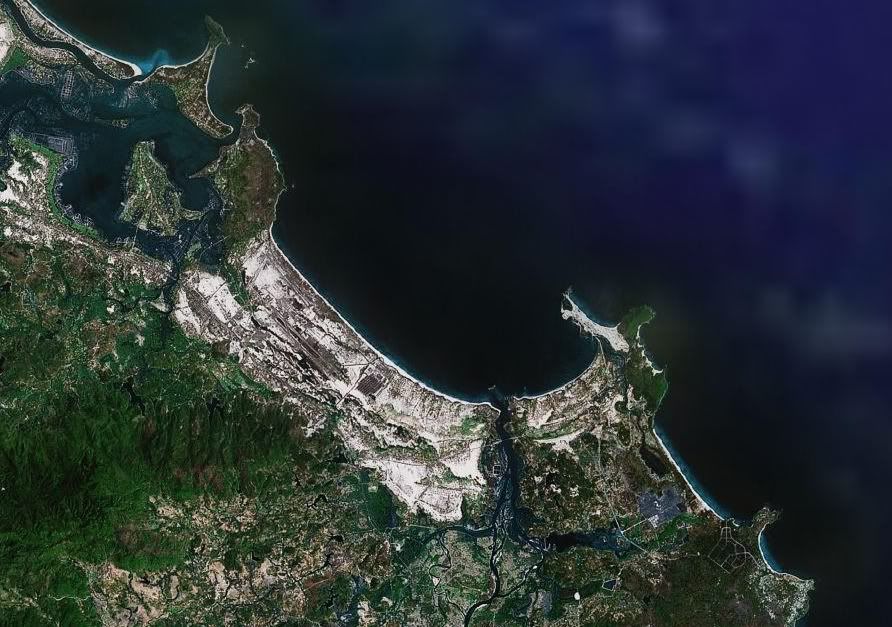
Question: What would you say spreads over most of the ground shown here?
water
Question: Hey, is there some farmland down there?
Yes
